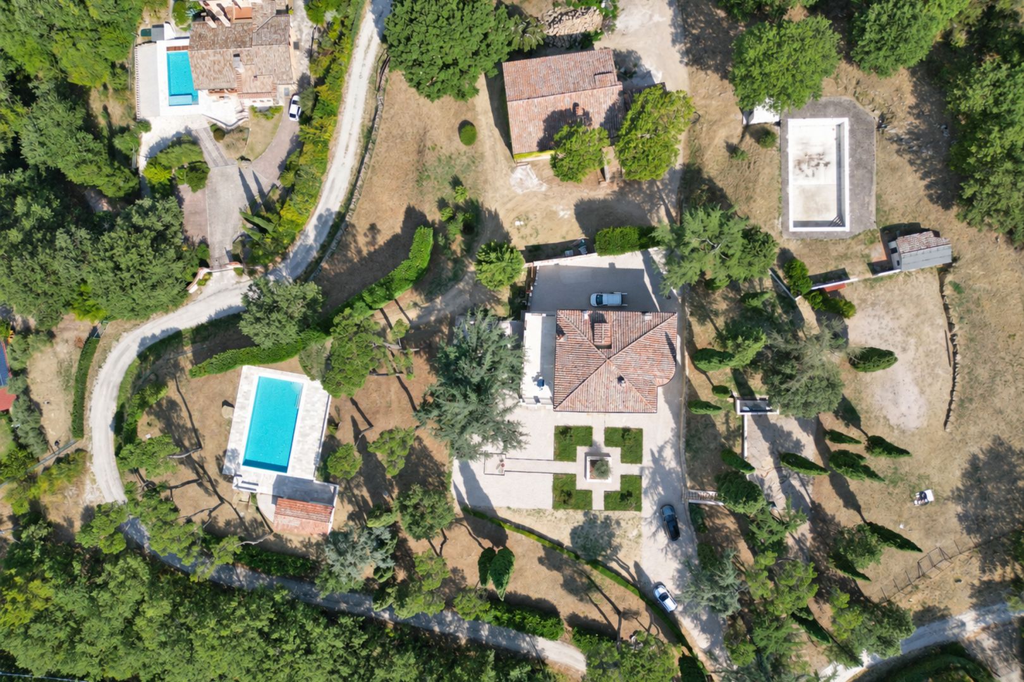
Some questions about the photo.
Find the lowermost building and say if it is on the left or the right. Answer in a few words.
left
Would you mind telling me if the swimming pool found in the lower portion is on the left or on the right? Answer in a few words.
left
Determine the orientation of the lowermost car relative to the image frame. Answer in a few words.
at an angle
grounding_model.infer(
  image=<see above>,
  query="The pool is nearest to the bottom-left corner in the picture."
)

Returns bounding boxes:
[223,365,332,481]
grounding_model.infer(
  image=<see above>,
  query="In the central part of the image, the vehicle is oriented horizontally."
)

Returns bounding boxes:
[590,292,625,307]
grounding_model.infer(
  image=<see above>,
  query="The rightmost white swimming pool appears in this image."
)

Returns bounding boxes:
[780,95,877,239]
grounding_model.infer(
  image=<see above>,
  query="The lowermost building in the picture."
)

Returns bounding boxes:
[233,476,342,535]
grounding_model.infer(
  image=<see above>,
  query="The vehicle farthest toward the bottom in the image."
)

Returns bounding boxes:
[653,583,679,614]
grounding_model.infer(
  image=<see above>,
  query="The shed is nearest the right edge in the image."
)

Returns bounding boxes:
[886,231,952,270]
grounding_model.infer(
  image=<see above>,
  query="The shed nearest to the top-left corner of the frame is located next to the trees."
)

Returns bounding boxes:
[152,24,171,46]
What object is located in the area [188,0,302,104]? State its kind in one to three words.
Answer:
house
